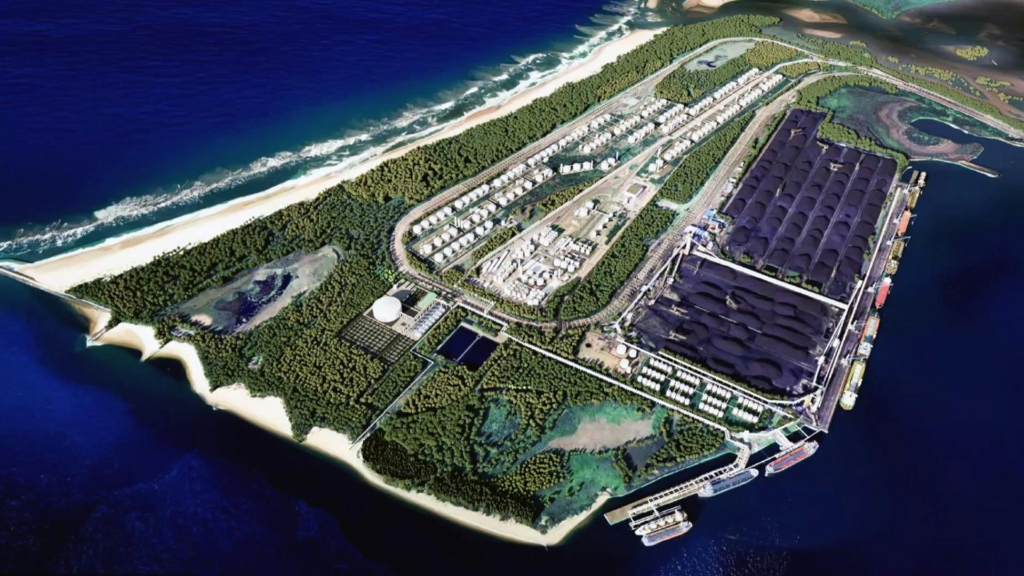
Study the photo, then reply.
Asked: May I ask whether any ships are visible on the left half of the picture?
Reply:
No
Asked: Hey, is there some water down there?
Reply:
Yes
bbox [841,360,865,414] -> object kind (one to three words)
ship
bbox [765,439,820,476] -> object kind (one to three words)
ship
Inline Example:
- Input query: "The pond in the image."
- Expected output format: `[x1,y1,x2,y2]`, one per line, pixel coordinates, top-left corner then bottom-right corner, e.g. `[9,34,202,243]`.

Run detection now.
[433,326,498,370]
